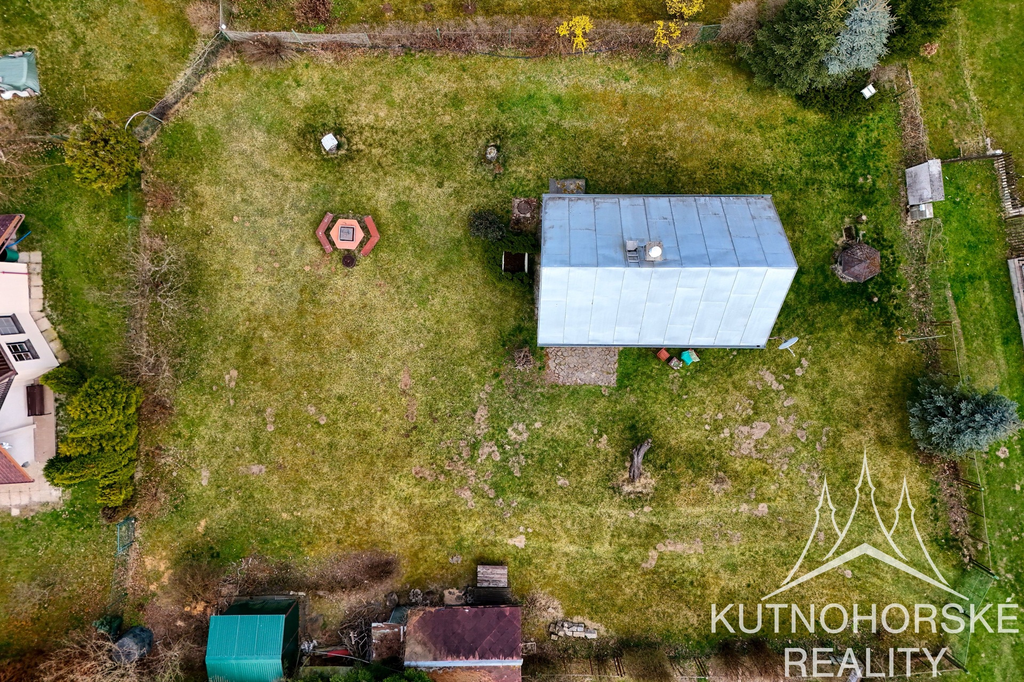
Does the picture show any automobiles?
No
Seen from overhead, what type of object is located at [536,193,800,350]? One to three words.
house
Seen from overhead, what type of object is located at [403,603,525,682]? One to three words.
shed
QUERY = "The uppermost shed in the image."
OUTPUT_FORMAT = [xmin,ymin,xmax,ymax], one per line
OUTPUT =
[905,159,944,205]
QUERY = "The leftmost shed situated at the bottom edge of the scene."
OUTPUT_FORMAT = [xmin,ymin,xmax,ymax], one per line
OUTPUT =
[205,599,301,682]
